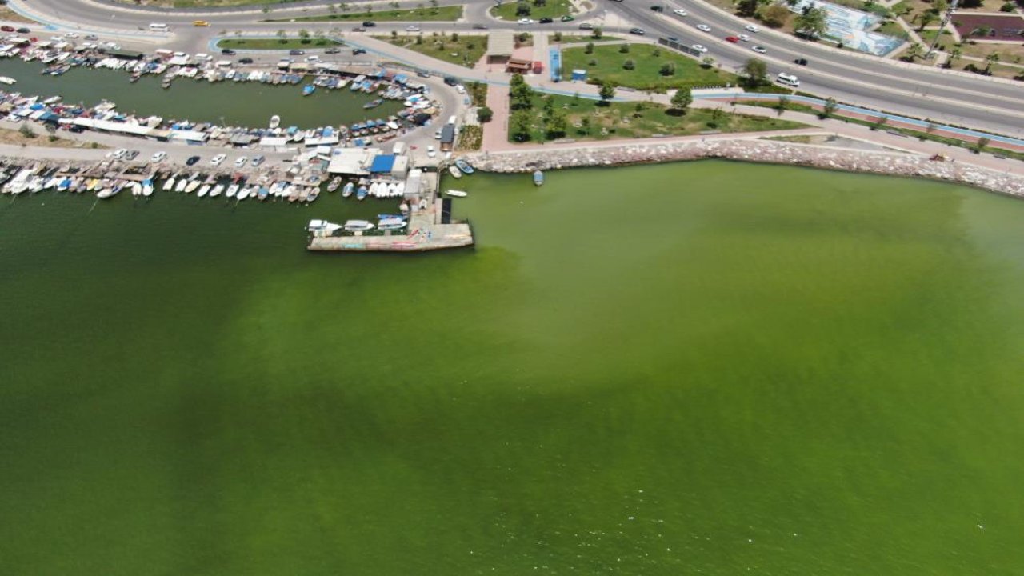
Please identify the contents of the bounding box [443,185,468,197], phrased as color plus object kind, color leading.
white boat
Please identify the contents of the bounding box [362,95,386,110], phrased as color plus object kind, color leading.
gray boat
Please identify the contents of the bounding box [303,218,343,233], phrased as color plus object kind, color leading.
white boat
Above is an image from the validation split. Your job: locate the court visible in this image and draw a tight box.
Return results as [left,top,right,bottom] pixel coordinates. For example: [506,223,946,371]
[952,14,1024,45]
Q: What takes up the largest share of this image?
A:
water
